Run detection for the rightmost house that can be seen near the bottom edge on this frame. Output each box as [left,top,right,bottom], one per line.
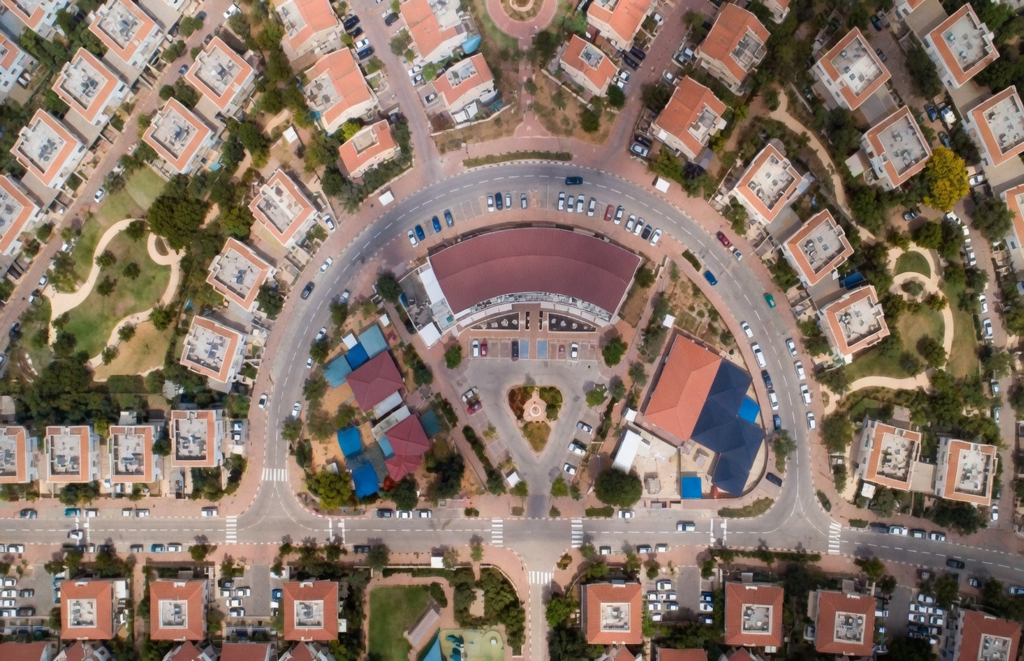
[942,607,1021,661]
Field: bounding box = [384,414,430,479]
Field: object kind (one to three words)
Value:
building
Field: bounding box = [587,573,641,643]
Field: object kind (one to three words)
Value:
house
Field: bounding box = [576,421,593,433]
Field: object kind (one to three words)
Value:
vehicle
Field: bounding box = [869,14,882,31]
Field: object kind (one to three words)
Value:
vehicle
